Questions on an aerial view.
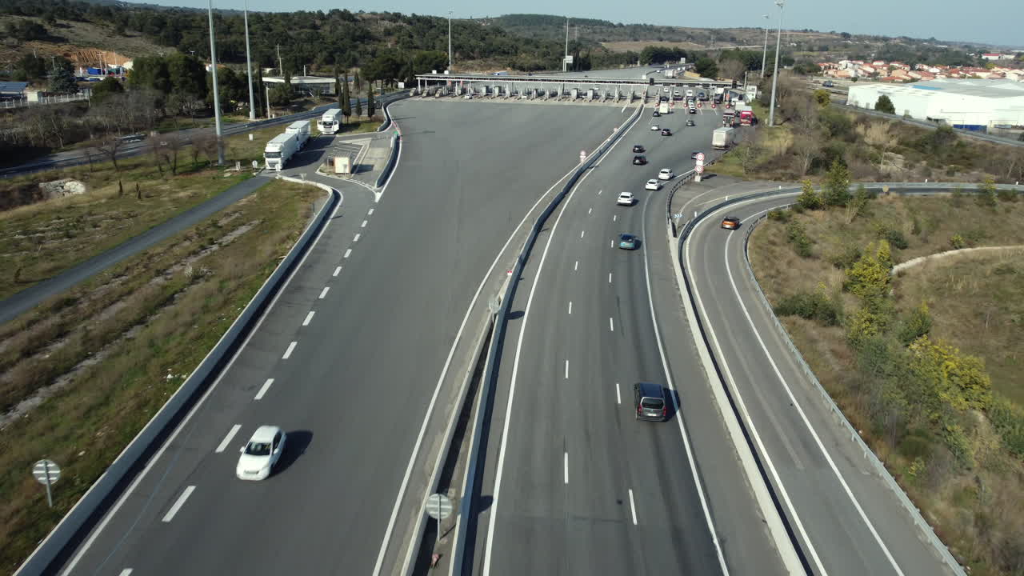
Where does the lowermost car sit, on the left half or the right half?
left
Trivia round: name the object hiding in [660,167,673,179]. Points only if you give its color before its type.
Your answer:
white vehicle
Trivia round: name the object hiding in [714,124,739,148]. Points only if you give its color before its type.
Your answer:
white truck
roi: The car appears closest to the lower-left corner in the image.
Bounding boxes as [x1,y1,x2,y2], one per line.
[238,425,291,480]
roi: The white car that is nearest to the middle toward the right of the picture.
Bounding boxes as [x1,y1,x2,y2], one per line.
[618,190,633,204]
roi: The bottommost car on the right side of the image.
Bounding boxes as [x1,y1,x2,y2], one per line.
[630,379,666,421]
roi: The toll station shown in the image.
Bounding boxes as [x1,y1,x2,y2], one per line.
[411,71,749,99]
